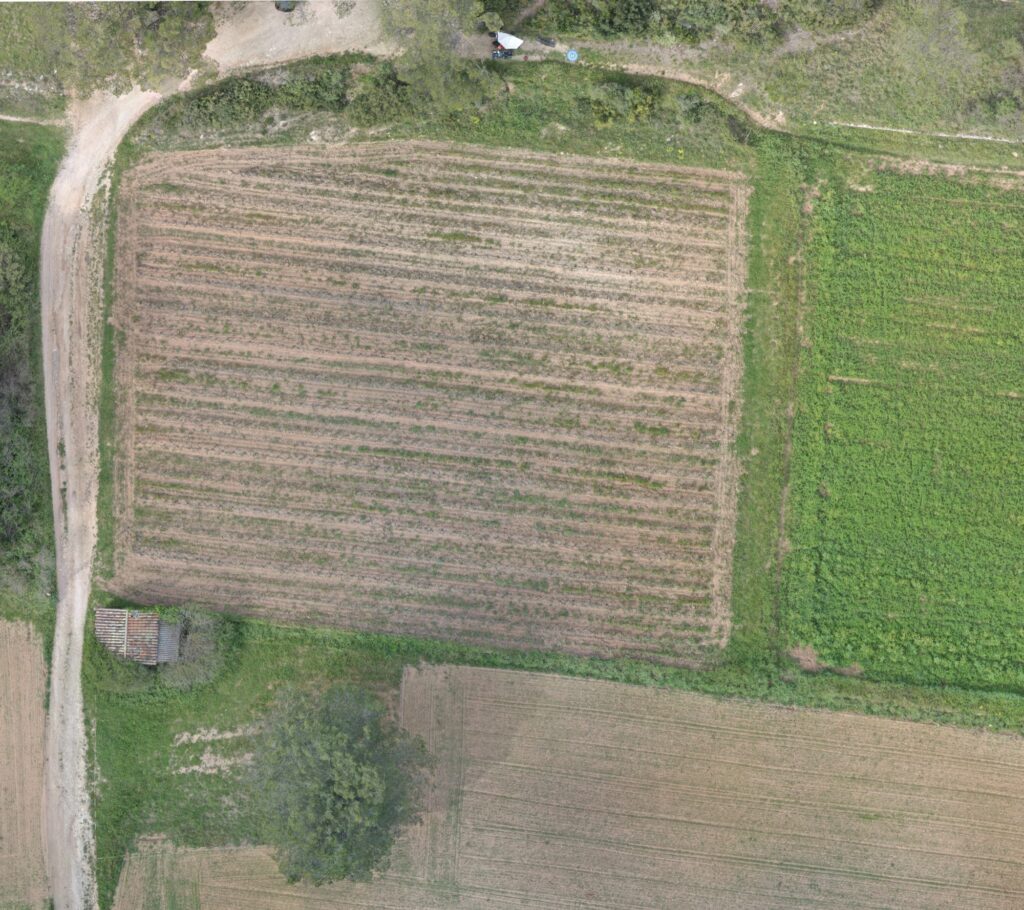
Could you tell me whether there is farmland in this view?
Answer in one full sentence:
Yes, the picture does contain farmland.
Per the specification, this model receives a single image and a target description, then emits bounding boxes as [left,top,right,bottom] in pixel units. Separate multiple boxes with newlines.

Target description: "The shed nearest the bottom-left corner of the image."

[94,606,184,666]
